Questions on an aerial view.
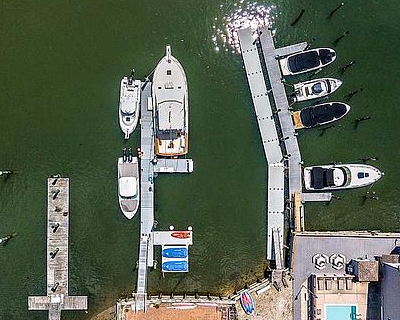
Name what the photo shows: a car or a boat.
boat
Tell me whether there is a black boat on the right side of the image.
Yes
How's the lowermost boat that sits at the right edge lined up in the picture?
horizontally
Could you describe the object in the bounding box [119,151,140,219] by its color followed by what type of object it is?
white boat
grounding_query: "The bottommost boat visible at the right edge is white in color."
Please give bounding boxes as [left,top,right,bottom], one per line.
[302,164,385,190]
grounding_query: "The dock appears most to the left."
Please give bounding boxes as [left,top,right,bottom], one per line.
[29,178,88,320]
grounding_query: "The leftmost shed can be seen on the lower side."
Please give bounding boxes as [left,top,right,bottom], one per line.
[352,258,379,281]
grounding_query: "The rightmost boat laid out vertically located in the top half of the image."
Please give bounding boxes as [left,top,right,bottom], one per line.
[154,47,188,155]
